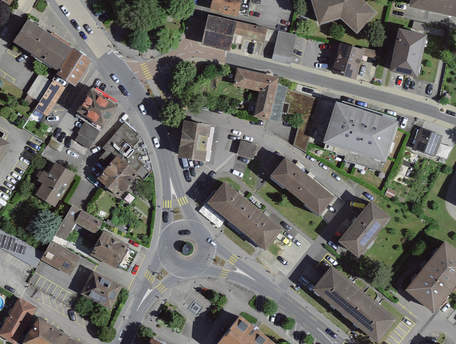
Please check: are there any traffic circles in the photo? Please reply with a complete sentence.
Yes, I can see a traffic circle in this picture.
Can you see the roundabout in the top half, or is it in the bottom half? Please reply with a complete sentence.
The bottom half of the photo is where the roundabout is.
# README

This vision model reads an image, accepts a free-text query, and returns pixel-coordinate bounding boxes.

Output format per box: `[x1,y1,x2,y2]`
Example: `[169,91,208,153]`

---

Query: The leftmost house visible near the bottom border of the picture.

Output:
[0,299,36,343]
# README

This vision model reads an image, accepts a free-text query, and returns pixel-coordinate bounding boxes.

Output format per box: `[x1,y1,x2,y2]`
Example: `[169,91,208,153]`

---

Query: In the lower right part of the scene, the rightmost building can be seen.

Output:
[406,242,456,312]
